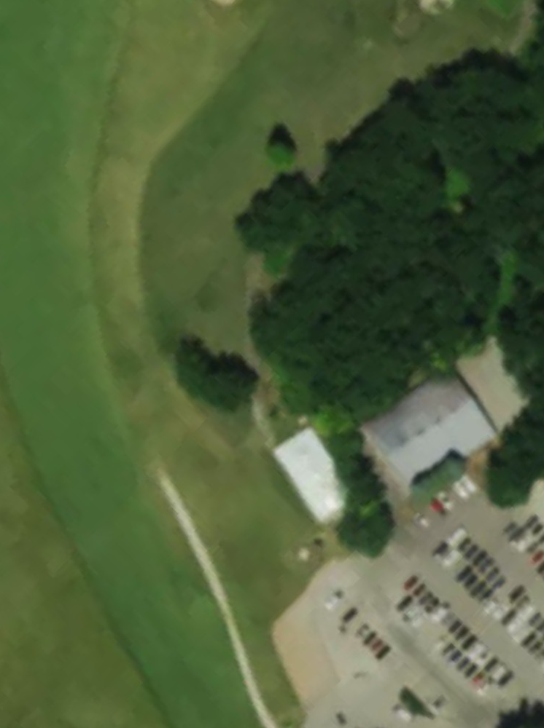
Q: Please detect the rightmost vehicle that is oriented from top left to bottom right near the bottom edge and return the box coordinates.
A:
[395,706,414,723]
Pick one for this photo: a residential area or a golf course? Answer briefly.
golf course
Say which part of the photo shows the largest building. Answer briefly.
right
